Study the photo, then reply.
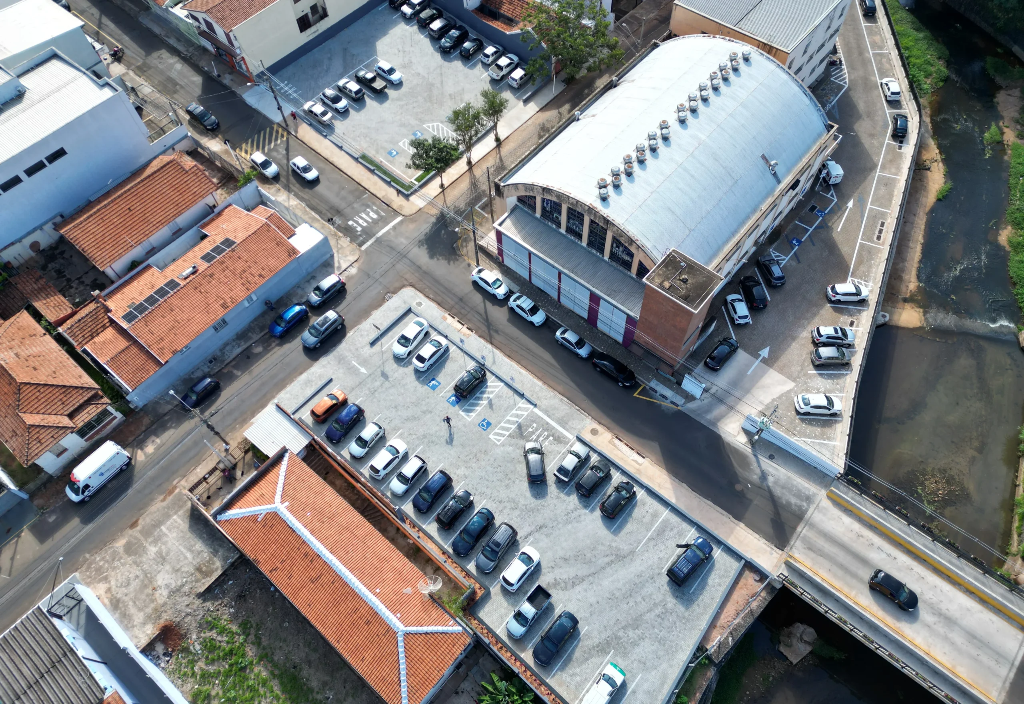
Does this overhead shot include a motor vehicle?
Yes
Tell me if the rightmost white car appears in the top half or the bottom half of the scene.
top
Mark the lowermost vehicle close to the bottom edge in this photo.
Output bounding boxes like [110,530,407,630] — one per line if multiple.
[581,664,627,704]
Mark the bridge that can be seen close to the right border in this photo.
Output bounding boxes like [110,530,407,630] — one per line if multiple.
[779,476,1024,704]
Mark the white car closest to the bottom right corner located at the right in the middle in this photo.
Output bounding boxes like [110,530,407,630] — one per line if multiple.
[792,394,843,417]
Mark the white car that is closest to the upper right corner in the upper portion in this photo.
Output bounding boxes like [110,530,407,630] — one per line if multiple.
[880,78,902,103]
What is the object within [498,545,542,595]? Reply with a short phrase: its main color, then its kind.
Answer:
white car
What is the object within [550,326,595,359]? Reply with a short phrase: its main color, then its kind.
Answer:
blue car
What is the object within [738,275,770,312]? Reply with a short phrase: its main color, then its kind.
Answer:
black car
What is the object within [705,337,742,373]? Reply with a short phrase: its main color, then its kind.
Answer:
black car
